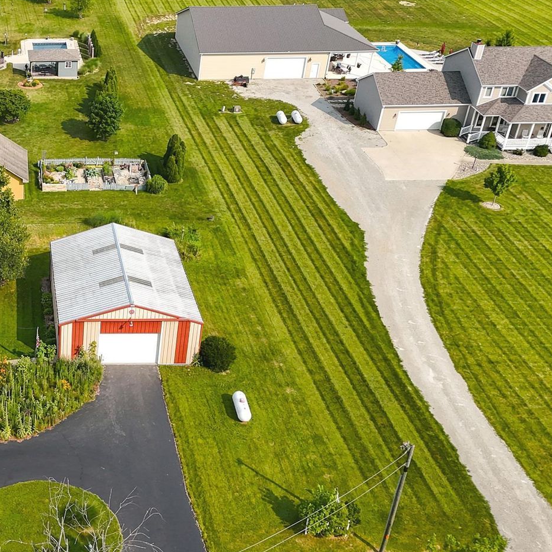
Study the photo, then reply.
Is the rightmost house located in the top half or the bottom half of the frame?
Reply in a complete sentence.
The rightmost house is in the top half of the image.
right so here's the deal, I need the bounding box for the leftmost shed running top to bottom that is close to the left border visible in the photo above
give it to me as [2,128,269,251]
[0,134,28,204]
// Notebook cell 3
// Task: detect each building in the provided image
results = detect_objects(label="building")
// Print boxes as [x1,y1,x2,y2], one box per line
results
[0,134,28,204]
[27,49,81,78]
[47,224,207,366]
[172,2,383,81]
[347,36,552,148]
